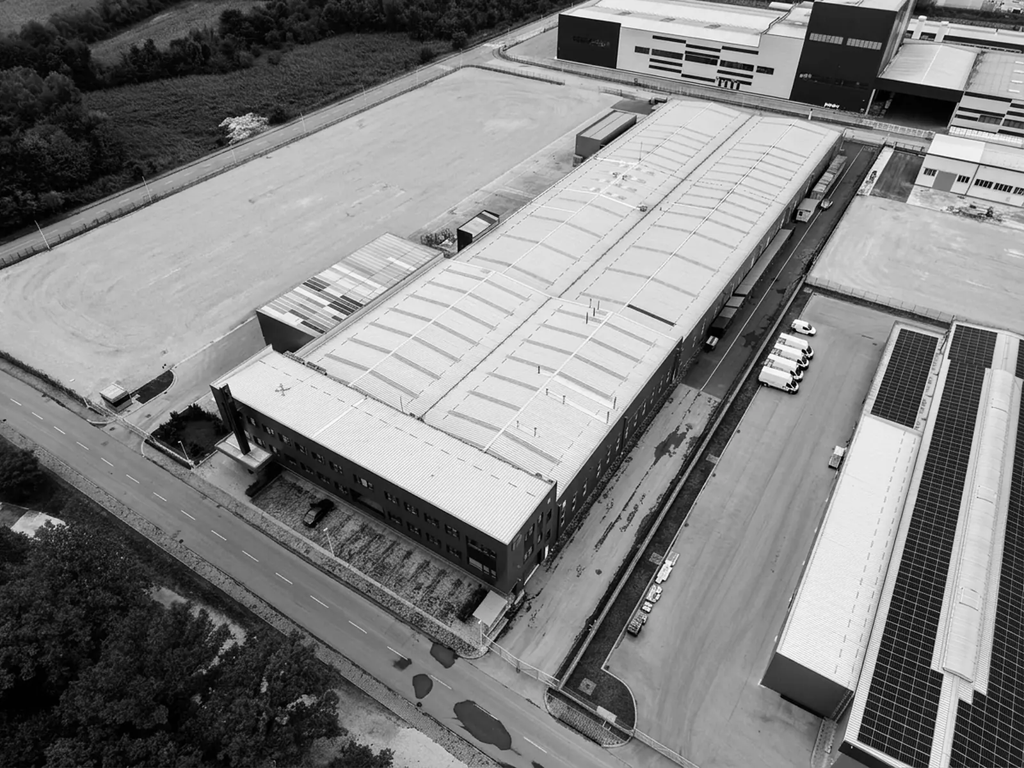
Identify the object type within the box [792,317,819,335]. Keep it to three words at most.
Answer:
vehicle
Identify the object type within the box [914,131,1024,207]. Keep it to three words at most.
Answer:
building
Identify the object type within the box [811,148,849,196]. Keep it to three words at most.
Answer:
trailer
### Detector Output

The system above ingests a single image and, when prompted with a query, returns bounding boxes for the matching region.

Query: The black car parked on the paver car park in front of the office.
[298,497,333,526]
